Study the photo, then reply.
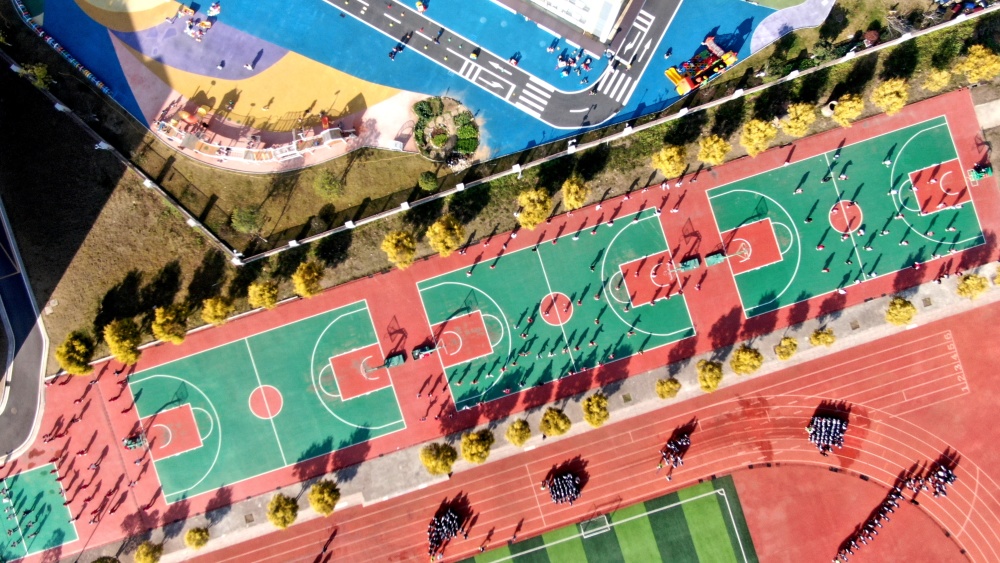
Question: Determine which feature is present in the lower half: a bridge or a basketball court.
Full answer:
There is a basketball court in the lower half.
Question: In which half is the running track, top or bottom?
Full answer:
You can find the running track in the bottom half.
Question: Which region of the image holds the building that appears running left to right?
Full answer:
The building that appears running left to right is located in the top region of the scene.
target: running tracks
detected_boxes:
[180,303,1000,563]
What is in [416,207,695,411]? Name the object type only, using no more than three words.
basketball court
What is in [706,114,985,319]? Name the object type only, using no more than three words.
basketball court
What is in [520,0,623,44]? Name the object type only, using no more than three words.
building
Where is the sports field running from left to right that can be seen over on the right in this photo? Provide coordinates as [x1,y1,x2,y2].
[455,474,760,563]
